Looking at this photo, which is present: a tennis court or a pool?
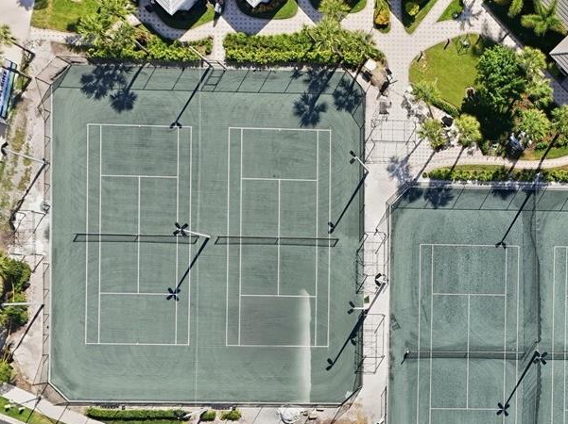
tennis court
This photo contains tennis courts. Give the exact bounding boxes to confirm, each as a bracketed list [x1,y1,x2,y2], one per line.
[534,190,568,424]
[387,189,534,424]
[49,64,198,402]
[197,66,364,403]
